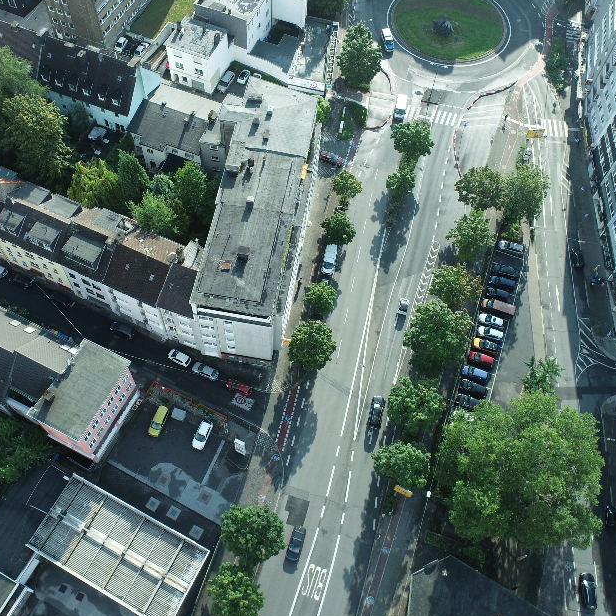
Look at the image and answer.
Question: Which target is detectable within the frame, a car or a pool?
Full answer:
It is a car that can be seen here.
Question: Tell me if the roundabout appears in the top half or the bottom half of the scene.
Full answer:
It is in the top half that the roundabout appears.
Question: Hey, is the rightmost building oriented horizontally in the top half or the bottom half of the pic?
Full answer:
The rightmost building oriented horizontally sits in the bottom half of the picture.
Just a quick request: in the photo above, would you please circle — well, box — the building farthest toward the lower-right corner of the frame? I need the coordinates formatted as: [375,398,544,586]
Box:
[403,554,555,616]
